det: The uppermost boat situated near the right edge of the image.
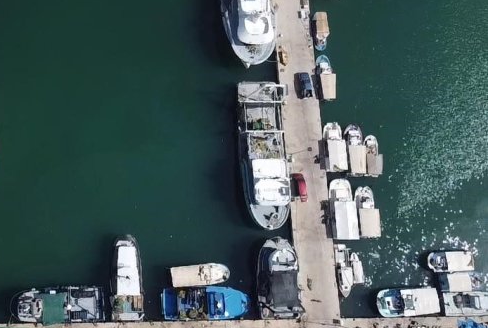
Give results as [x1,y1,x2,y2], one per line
[426,251,474,273]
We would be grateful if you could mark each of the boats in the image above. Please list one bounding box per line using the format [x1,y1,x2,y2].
[440,292,488,317]
[334,244,353,298]
[219,0,276,69]
[233,78,310,235]
[317,118,347,174]
[437,272,482,293]
[363,135,383,179]
[108,236,149,324]
[426,251,474,273]
[353,186,381,238]
[10,282,104,324]
[152,284,248,324]
[325,179,359,244]
[169,262,229,288]
[343,124,366,179]
[313,55,337,105]
[253,237,309,320]
[349,251,363,283]
[312,11,329,53]
[368,288,443,321]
